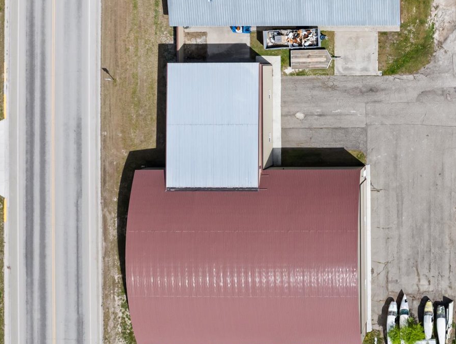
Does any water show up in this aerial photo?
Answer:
No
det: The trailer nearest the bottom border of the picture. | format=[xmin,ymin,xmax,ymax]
[288,49,338,69]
